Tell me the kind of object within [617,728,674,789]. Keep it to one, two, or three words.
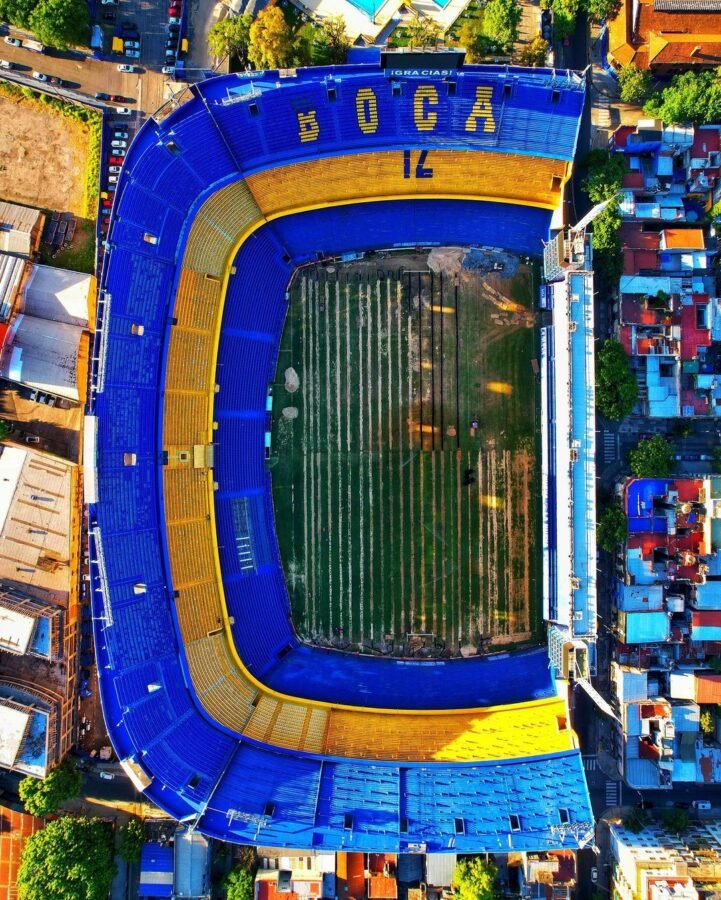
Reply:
house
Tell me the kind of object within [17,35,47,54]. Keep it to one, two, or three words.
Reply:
vehicle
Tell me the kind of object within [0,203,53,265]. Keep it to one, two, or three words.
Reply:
building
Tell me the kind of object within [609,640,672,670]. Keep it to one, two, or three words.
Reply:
house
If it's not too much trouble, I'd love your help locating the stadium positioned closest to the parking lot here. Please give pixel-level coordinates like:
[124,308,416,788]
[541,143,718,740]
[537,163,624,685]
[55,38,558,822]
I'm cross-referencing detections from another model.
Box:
[84,47,603,857]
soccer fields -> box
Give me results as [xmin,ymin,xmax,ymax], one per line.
[269,249,550,657]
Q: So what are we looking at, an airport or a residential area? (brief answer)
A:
residential area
